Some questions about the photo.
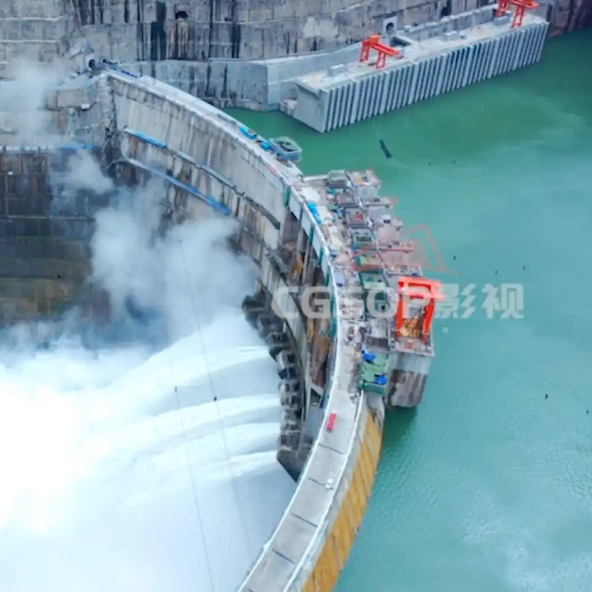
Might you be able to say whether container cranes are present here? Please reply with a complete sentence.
Yes, a container crane is visible in the scene.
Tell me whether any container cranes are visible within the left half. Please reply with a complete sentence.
No, no container crane can be made out within the left half.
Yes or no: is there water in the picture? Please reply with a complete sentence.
Yes, there is water in the image.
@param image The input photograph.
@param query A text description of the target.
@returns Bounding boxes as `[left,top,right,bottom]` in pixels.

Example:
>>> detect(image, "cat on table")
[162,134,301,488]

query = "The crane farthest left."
[368,31,406,70]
